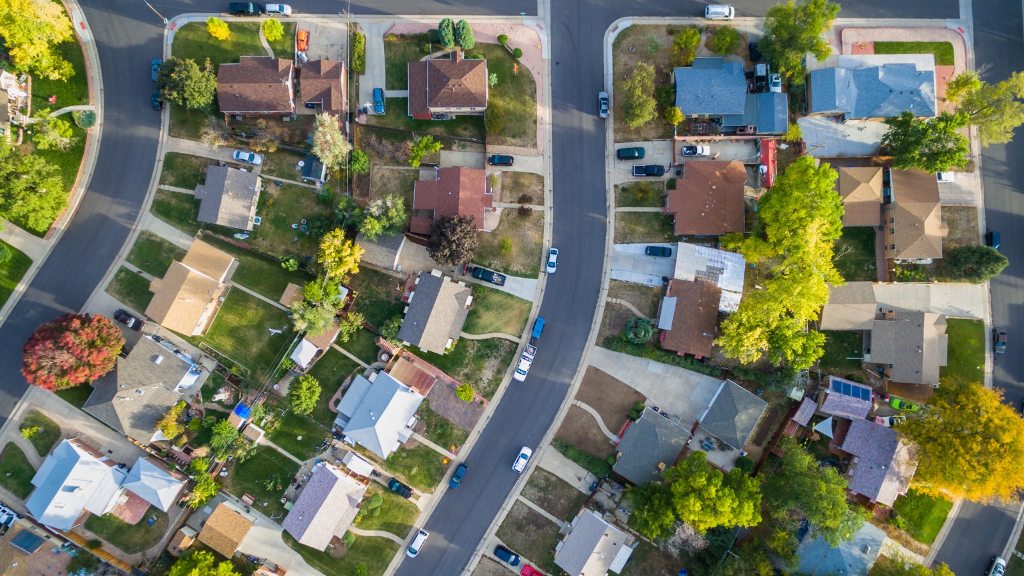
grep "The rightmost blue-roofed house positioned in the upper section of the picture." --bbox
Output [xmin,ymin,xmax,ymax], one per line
[807,63,936,121]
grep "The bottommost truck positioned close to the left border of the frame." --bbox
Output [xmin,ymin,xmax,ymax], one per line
[0,503,22,527]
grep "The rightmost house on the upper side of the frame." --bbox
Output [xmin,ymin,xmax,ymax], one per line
[882,168,951,258]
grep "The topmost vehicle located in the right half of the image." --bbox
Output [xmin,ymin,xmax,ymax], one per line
[703,4,735,20]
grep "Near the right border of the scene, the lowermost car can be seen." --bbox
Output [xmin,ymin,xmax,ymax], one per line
[984,553,1006,576]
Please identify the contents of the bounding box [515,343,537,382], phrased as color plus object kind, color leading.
white truck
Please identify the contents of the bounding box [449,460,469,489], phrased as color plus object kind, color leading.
blue car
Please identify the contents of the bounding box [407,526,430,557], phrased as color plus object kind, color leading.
white car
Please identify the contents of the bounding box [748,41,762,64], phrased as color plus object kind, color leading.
black car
